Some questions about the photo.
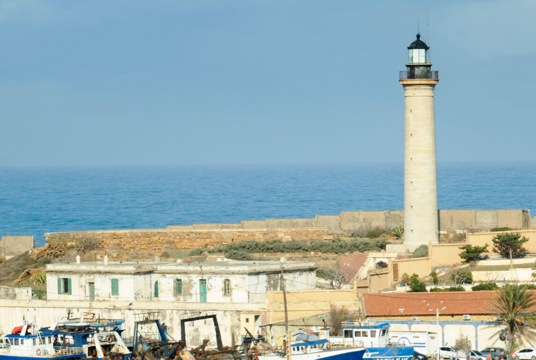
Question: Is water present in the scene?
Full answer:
Yes, the picture does contain water.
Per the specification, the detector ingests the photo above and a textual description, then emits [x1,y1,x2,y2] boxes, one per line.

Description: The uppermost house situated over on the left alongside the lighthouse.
[43,256,332,302]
